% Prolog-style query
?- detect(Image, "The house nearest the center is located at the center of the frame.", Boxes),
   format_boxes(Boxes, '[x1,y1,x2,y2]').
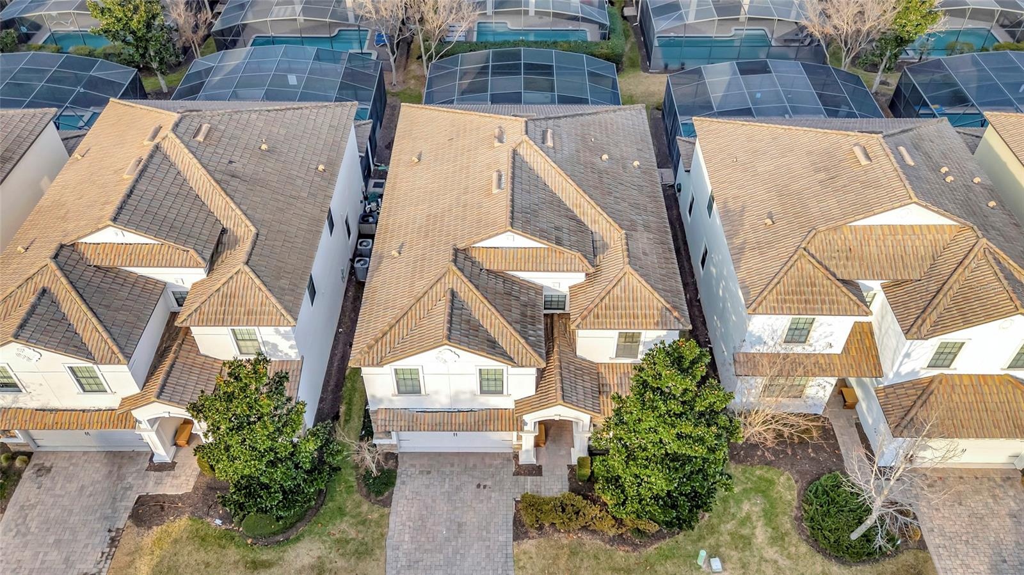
[348,102,693,464]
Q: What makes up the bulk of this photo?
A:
buildings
